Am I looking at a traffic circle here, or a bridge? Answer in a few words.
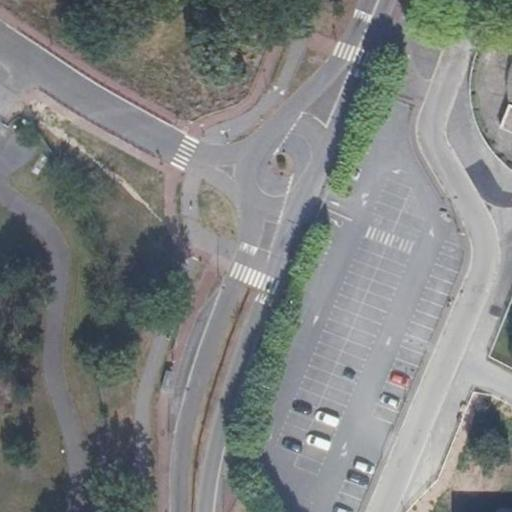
traffic circle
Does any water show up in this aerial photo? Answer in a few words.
No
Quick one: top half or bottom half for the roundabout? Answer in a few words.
top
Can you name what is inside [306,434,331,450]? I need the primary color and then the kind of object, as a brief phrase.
white car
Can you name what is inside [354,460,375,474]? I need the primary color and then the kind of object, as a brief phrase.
white car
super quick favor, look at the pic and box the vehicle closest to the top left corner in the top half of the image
[31,155,47,174]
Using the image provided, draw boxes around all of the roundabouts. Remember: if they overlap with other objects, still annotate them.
[256,130,312,196]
